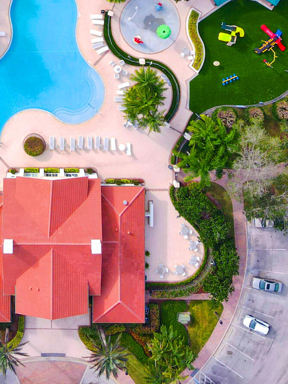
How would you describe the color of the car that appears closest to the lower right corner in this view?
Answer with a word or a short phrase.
white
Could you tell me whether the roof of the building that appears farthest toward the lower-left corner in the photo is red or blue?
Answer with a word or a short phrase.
red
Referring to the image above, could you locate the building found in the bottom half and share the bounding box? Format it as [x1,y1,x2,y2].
[0,171,154,324]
